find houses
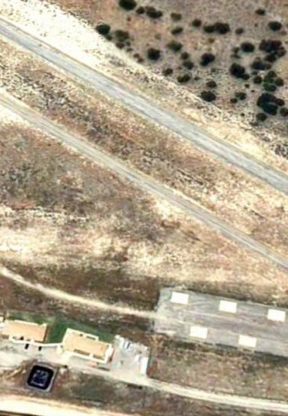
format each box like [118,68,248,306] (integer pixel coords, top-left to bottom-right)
[61,330,112,365]
[0,320,46,343]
